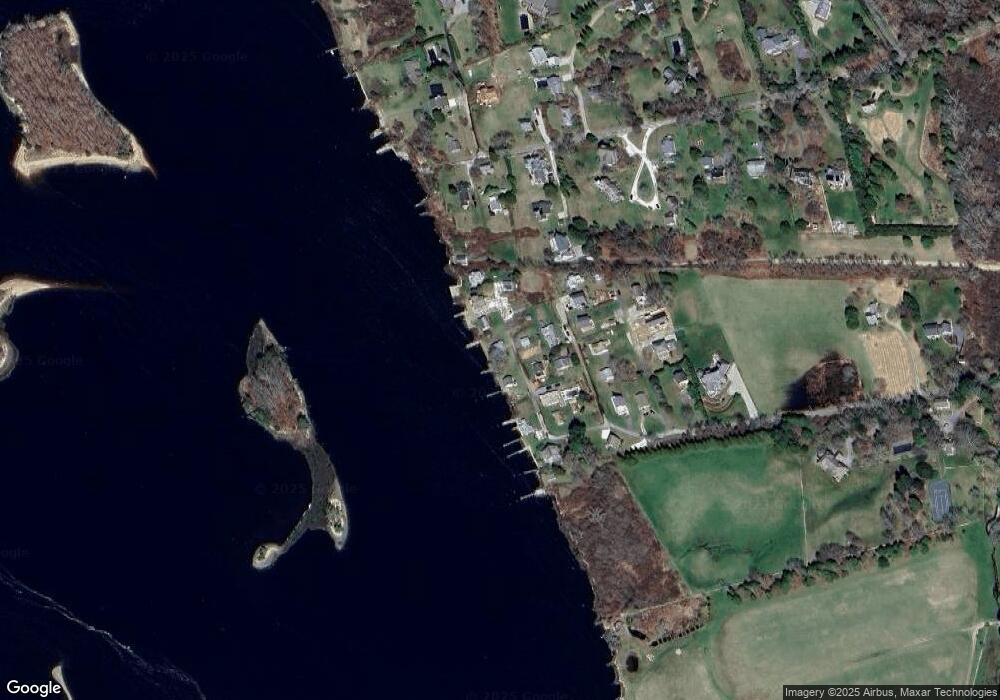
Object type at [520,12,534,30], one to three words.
swimming pool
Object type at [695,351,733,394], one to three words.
house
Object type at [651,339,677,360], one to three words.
house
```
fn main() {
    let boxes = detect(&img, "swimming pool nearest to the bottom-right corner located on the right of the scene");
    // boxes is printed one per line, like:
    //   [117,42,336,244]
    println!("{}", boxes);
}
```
[892,439,913,455]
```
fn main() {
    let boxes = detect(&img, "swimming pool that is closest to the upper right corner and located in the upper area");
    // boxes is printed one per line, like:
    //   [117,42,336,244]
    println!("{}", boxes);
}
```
[669,35,687,58]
